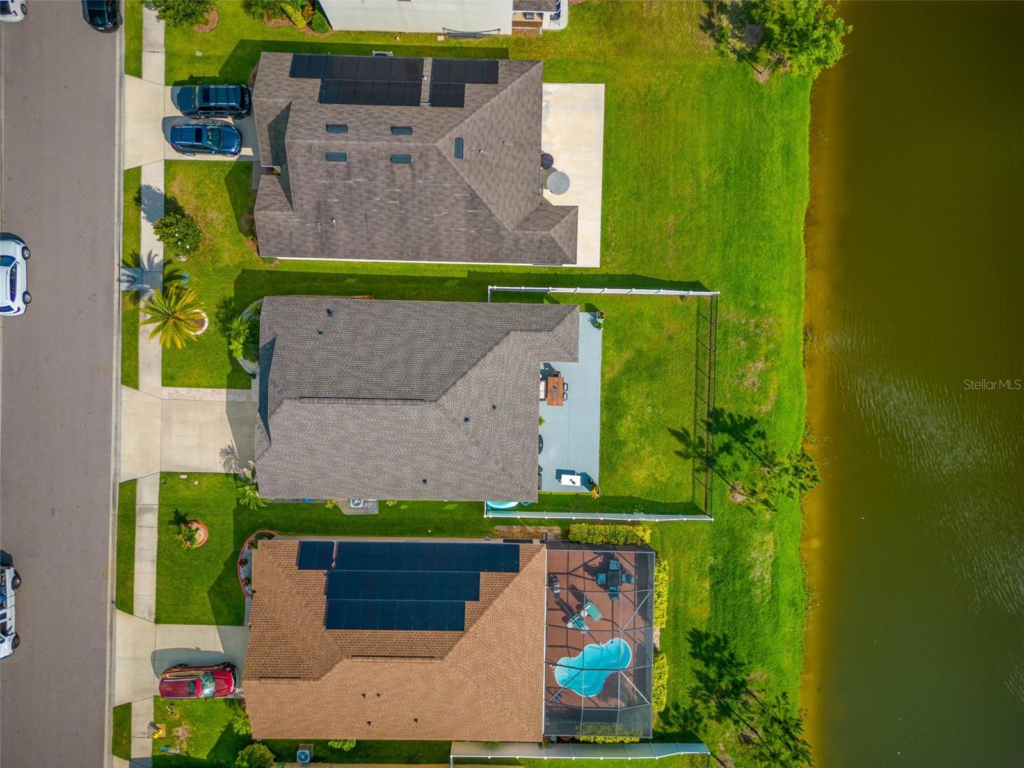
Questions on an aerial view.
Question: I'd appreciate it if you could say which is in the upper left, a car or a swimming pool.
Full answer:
The one visible in the upper left is a car.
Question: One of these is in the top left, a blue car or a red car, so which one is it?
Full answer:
The feature located in the top left is a blue car.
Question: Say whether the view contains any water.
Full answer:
Yes, water can be seen from above here.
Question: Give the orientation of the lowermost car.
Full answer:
The lowermost car is laid out from side to side.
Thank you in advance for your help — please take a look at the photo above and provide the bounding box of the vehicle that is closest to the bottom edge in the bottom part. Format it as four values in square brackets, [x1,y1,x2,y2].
[159,661,240,702]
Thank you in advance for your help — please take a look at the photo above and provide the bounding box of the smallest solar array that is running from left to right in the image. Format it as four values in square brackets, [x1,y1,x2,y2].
[289,54,499,107]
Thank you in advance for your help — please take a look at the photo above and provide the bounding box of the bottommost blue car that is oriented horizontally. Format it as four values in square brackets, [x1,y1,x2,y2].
[169,122,246,160]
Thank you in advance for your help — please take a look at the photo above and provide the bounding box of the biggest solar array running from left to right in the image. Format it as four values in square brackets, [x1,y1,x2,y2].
[297,542,519,631]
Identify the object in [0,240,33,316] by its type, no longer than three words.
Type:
car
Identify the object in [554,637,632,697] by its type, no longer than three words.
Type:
swimming pool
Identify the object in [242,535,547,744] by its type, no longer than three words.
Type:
house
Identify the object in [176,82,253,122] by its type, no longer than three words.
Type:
car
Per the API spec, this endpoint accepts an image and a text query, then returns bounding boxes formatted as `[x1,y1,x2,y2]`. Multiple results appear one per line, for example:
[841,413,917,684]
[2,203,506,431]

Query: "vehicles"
[0,563,24,659]
[176,82,253,122]
[169,122,246,160]
[86,0,125,36]
[159,661,240,702]
[0,240,33,316]
[0,0,30,26]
